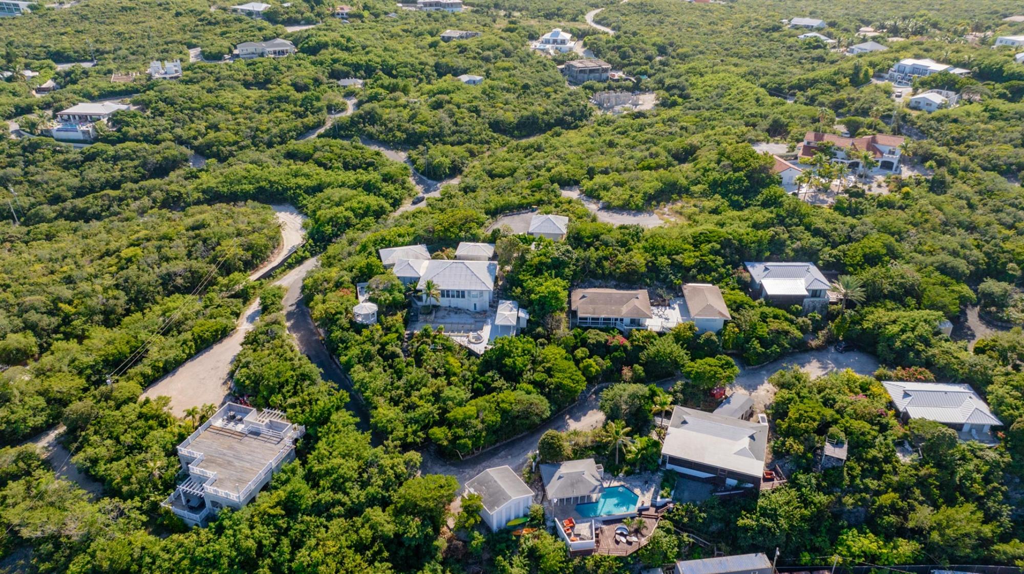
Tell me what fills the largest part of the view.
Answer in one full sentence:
The bulk of the photo consists of trees.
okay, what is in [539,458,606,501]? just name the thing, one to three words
building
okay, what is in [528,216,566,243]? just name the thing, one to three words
building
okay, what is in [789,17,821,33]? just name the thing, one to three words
house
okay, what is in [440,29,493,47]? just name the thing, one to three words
house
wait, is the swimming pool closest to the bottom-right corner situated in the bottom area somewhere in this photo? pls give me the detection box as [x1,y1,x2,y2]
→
[549,471,665,528]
